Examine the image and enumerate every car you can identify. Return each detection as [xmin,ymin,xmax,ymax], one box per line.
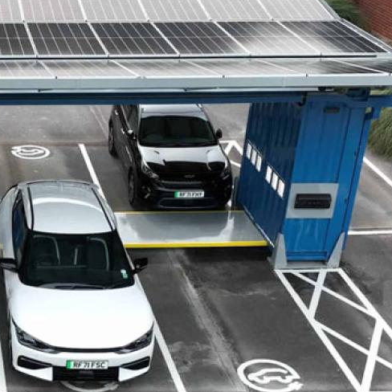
[0,180,156,384]
[115,103,240,208]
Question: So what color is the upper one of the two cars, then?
black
